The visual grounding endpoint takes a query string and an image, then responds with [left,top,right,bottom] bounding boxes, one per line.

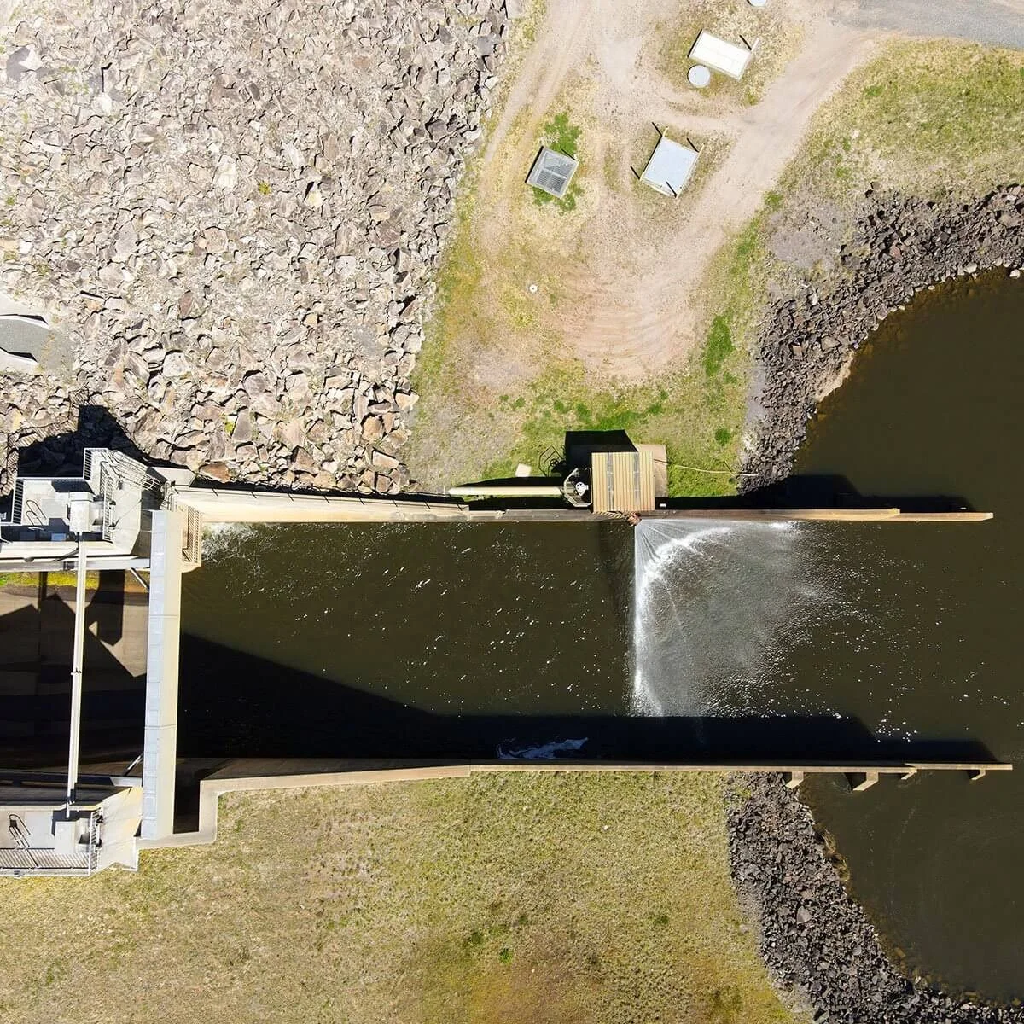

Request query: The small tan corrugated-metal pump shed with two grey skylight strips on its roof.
[590,452,655,512]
